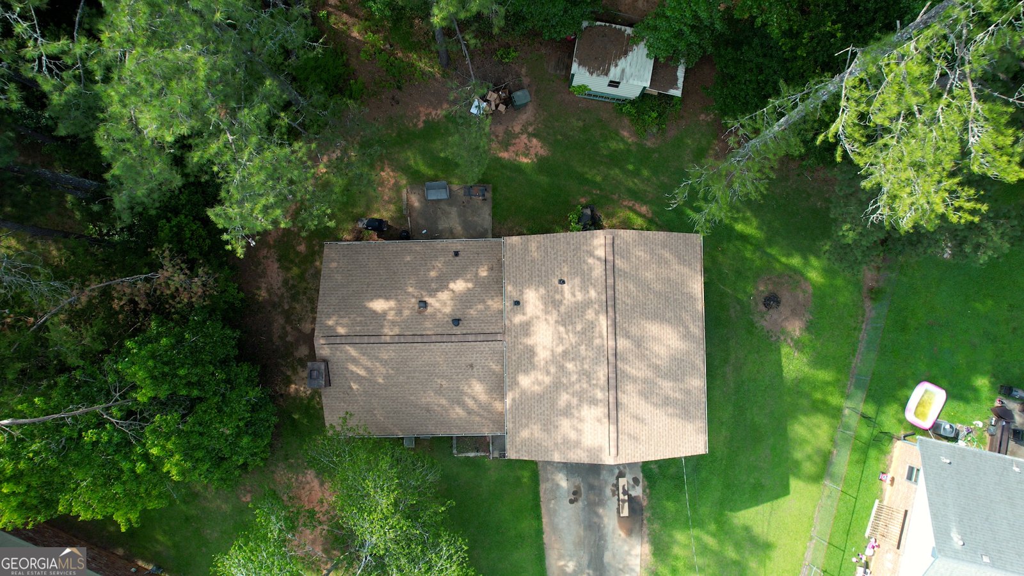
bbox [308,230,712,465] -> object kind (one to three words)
house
